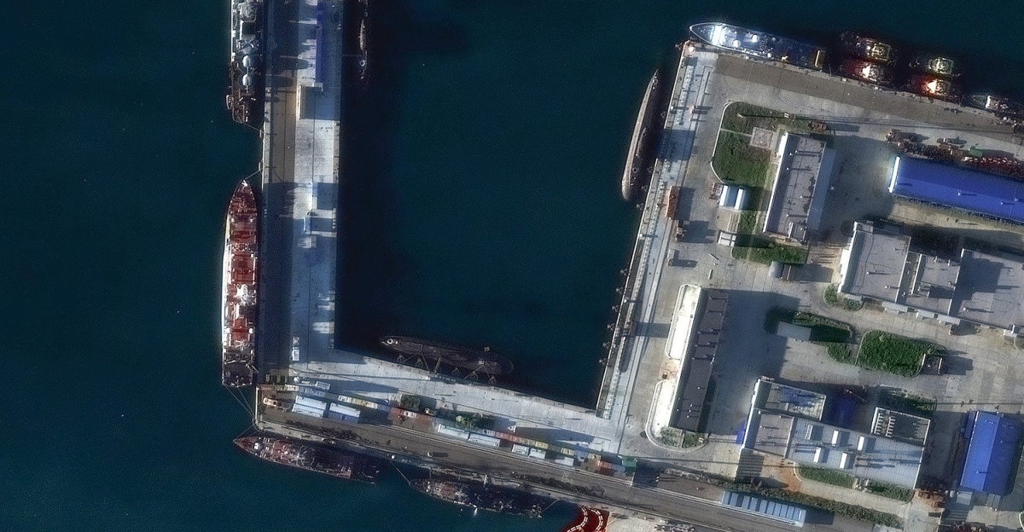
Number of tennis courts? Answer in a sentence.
The photo contains no tennis courts.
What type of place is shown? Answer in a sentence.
The area seen from above is a port.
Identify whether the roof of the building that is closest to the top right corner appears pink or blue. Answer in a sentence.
The roof of the building that is closest to the top right corner is blue.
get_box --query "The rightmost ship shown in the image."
[973,94,1024,120]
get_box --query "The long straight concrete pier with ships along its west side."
[256,0,342,385]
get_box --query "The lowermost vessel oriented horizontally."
[410,481,545,520]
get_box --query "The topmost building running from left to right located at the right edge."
[889,155,1024,225]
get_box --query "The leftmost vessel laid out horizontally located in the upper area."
[690,22,825,70]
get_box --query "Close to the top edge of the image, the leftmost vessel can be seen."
[226,0,263,129]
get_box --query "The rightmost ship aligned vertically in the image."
[622,70,659,201]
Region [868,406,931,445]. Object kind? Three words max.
building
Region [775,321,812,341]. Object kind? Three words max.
shed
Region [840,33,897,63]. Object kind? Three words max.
boat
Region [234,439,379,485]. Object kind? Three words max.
ship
